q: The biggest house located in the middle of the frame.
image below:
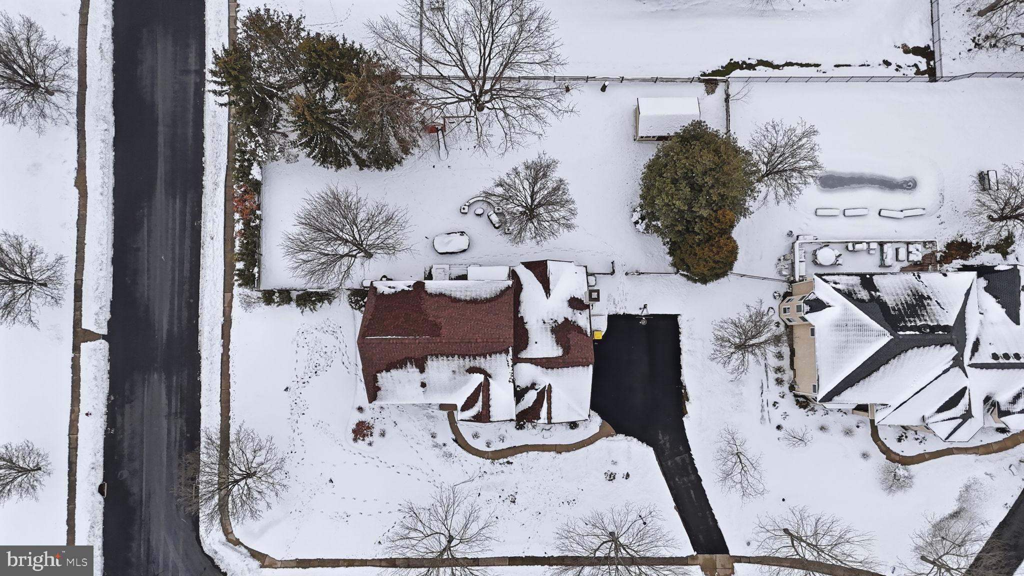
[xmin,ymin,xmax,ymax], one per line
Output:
[357,261,600,425]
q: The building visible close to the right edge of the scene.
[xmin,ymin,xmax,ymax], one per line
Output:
[780,268,1024,444]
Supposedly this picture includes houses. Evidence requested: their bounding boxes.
[357,261,600,425]
[780,268,1024,444]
